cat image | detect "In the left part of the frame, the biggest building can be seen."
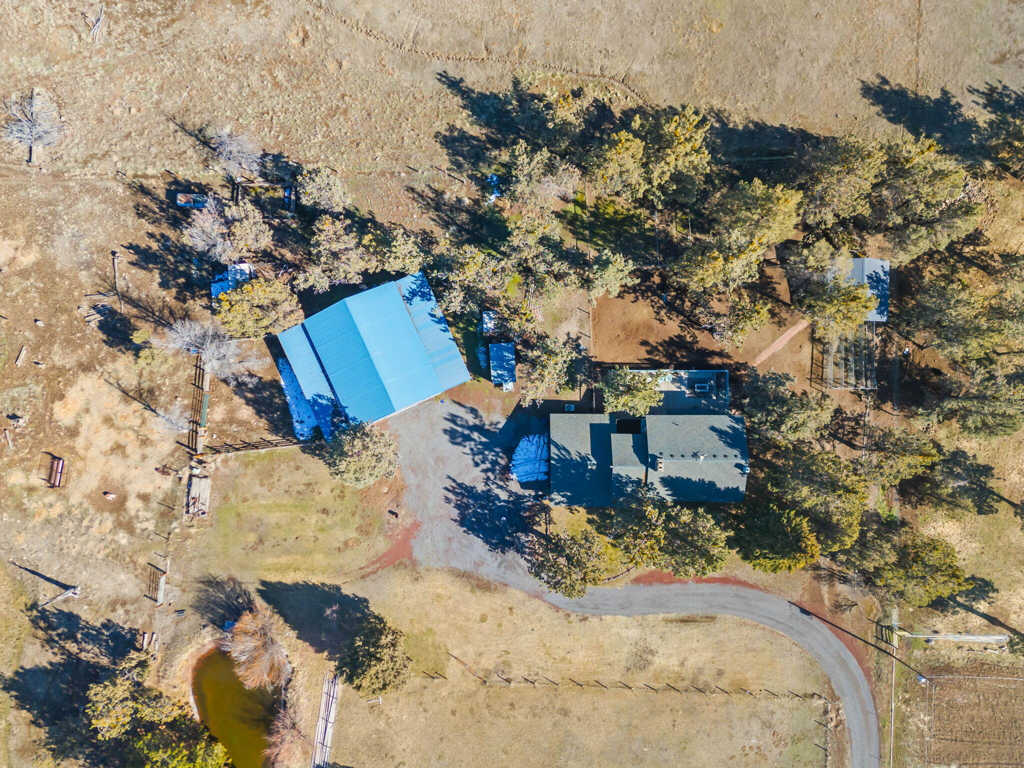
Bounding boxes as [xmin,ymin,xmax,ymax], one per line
[278,272,471,443]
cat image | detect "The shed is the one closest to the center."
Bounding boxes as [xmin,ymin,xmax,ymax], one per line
[490,343,515,384]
